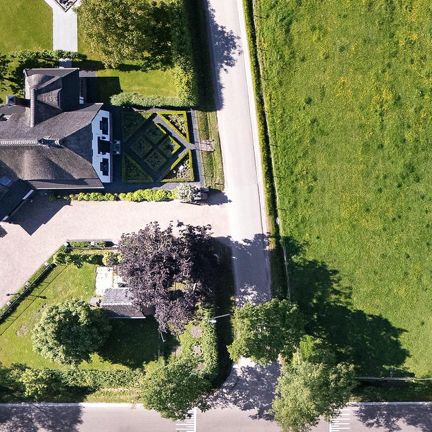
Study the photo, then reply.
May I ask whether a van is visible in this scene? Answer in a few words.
No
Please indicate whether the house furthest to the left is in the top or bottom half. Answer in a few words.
top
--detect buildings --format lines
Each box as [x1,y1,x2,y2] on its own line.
[93,287,153,319]
[0,65,123,235]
